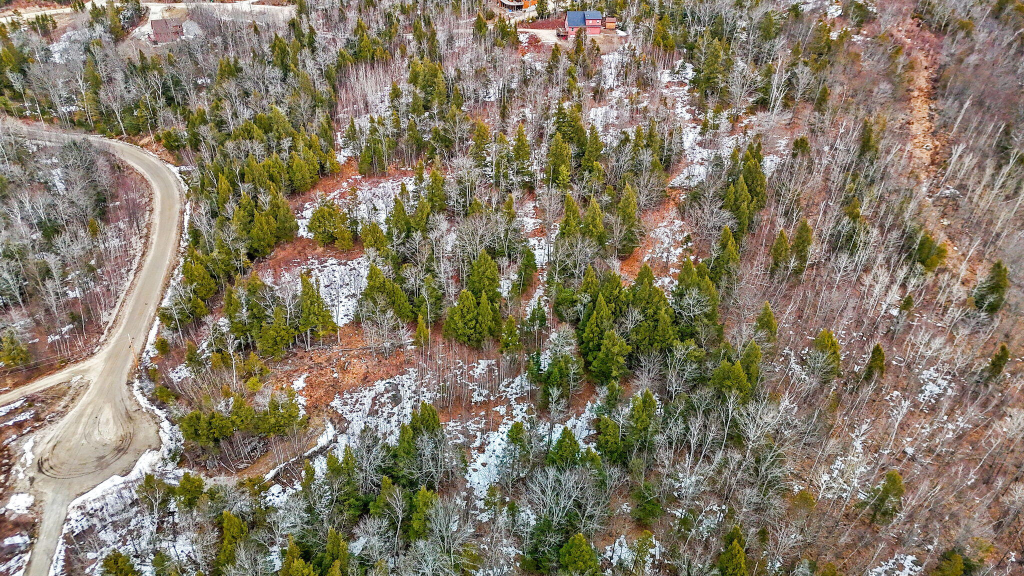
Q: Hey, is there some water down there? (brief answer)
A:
No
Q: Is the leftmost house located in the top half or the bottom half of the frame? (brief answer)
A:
top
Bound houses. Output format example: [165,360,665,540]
[499,0,536,12]
[552,12,601,39]
[135,12,195,43]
